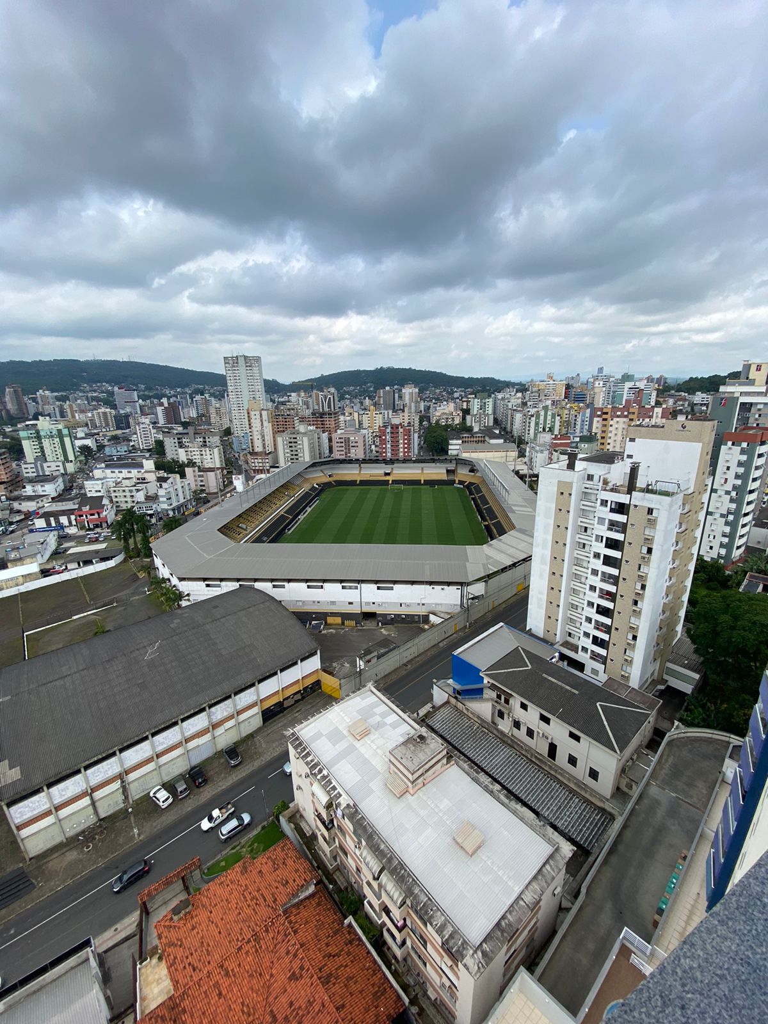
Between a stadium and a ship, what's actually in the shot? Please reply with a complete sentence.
I can see a stadium in this picture.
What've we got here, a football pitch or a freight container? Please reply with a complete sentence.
It is a football pitch that can be seen here.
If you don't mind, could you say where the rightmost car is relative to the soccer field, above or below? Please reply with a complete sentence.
From this view, the rightmost car can be seen below the soccer field.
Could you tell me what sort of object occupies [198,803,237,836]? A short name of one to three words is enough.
truck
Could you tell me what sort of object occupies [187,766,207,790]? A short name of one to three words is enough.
car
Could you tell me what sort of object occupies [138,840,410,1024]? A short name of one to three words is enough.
house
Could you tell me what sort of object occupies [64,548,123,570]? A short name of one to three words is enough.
shed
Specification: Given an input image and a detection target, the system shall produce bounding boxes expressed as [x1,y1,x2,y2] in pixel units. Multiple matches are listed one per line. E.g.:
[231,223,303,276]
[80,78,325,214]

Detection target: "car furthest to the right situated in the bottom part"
[273,760,293,783]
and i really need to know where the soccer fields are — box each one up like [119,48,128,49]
[275,486,488,554]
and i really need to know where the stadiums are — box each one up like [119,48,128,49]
[149,458,538,584]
